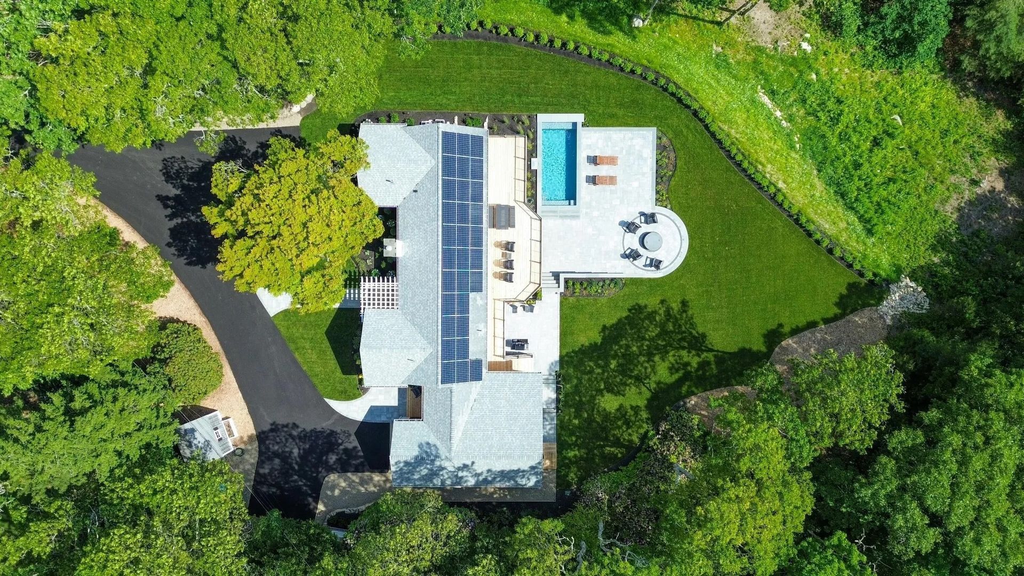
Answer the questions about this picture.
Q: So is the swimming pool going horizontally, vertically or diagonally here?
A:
vertically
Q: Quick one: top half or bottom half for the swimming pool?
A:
top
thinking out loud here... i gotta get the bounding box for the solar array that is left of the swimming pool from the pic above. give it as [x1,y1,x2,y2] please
[443,131,484,384]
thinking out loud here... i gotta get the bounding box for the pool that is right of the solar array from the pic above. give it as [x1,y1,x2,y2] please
[537,114,584,216]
